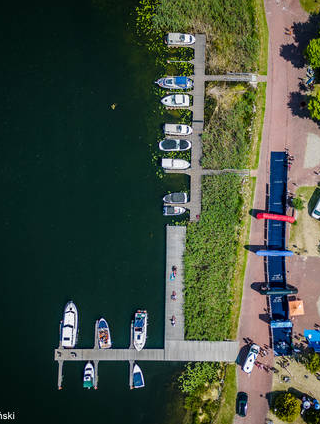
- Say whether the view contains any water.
Yes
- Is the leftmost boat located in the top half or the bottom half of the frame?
bottom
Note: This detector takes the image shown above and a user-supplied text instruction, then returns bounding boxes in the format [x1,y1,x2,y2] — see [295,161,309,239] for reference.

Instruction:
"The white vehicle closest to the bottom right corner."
[241,342,259,375]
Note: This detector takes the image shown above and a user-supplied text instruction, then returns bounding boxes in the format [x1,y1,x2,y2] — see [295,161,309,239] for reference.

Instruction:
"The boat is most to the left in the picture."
[59,301,80,351]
